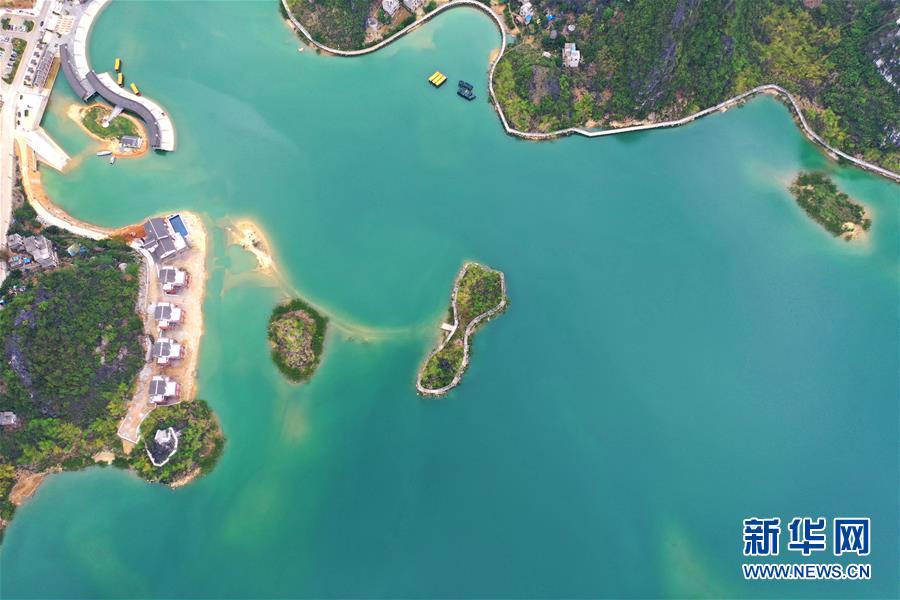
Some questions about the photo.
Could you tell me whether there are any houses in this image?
Yes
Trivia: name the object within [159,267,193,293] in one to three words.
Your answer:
house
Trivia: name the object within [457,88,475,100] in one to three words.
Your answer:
boat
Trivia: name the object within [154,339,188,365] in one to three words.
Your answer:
house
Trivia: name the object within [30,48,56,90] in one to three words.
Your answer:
building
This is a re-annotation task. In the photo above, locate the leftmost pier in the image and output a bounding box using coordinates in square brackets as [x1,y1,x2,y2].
[95,73,176,150]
